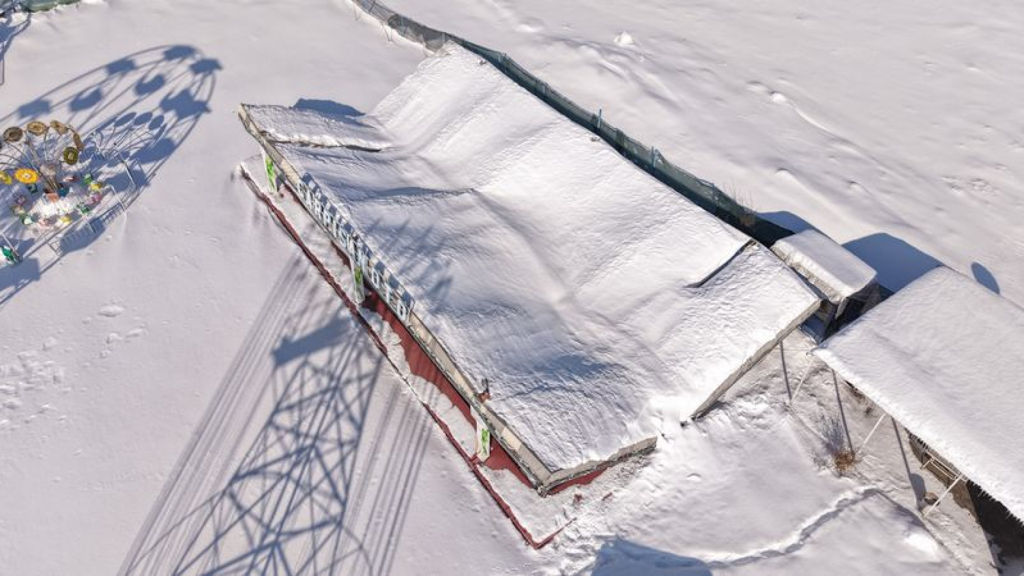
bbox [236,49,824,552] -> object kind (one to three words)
building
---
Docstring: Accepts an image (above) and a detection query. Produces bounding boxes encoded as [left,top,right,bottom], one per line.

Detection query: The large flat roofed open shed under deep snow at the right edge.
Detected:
[790,270,1024,541]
